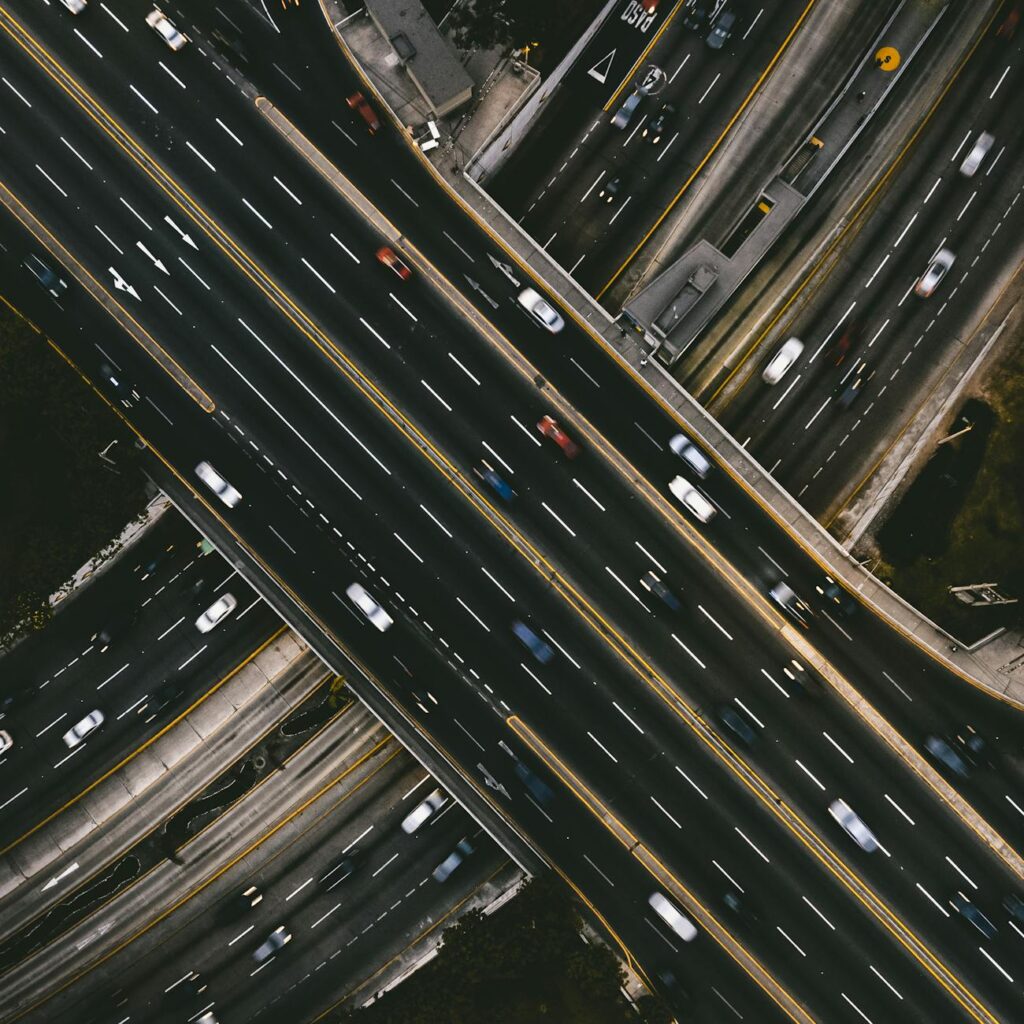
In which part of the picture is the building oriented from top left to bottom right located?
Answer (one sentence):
The building oriented from top left to bottom right is located in the top region of the scene.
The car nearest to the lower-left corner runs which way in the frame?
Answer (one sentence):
In this picture, the car nearest to the lower-left corner is oriented diagonally.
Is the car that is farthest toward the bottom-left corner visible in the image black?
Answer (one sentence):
Yes, the car that is farthest toward the bottom-left corner is black.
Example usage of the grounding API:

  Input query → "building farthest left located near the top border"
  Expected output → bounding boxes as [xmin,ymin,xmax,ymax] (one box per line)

[361,0,474,116]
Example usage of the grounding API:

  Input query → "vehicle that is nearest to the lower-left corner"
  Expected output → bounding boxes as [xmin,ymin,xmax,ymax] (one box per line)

[90,981,136,1023]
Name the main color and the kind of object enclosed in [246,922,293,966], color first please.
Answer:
gray car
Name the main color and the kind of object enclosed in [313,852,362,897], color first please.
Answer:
black car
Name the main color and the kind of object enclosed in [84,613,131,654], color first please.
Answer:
black car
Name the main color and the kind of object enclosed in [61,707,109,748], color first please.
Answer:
white car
